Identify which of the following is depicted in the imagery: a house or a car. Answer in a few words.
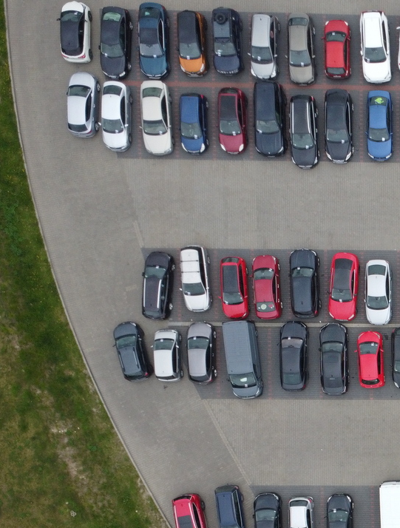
car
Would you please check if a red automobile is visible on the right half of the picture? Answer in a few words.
Yes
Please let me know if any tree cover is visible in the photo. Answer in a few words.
No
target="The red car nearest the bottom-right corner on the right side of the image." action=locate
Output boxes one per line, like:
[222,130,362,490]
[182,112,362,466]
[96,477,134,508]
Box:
[354,332,386,389]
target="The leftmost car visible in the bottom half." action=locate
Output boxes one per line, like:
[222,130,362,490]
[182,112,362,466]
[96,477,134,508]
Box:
[108,320,150,382]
